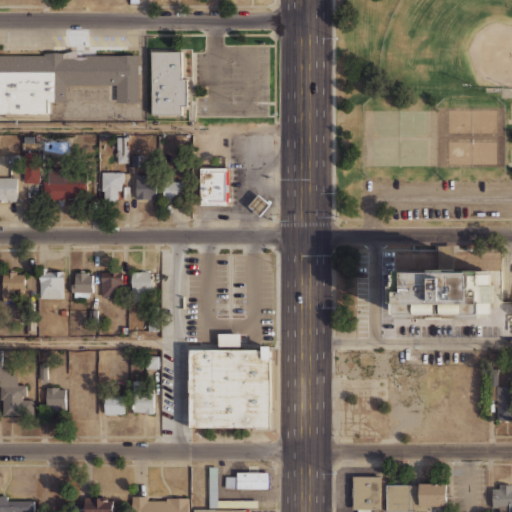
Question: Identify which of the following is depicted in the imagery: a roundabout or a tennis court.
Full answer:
It is a tennis court that can be seen here.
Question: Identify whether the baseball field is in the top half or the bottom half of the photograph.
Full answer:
The top half of the photo is where the baseball field is.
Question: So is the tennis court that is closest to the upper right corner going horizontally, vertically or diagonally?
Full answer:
Seen from above, the tennis court that is closest to the upper right corner lies horizontally.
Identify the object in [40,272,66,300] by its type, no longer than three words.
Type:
house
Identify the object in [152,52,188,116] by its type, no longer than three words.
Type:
building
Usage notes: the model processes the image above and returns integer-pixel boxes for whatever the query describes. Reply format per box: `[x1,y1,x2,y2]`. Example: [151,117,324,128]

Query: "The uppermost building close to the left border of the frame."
[0,54,140,121]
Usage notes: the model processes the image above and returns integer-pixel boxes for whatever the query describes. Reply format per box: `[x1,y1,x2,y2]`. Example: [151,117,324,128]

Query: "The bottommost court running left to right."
[449,142,497,165]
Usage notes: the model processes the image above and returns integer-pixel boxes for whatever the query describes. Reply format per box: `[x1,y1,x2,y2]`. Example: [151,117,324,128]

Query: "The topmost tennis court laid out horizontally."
[449,110,497,134]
